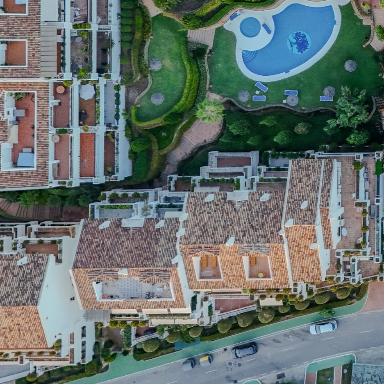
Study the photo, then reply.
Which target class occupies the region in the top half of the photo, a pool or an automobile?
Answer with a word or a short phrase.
pool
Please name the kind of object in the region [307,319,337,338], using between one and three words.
car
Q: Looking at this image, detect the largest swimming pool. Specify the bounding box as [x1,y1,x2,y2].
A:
[241,3,336,76]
